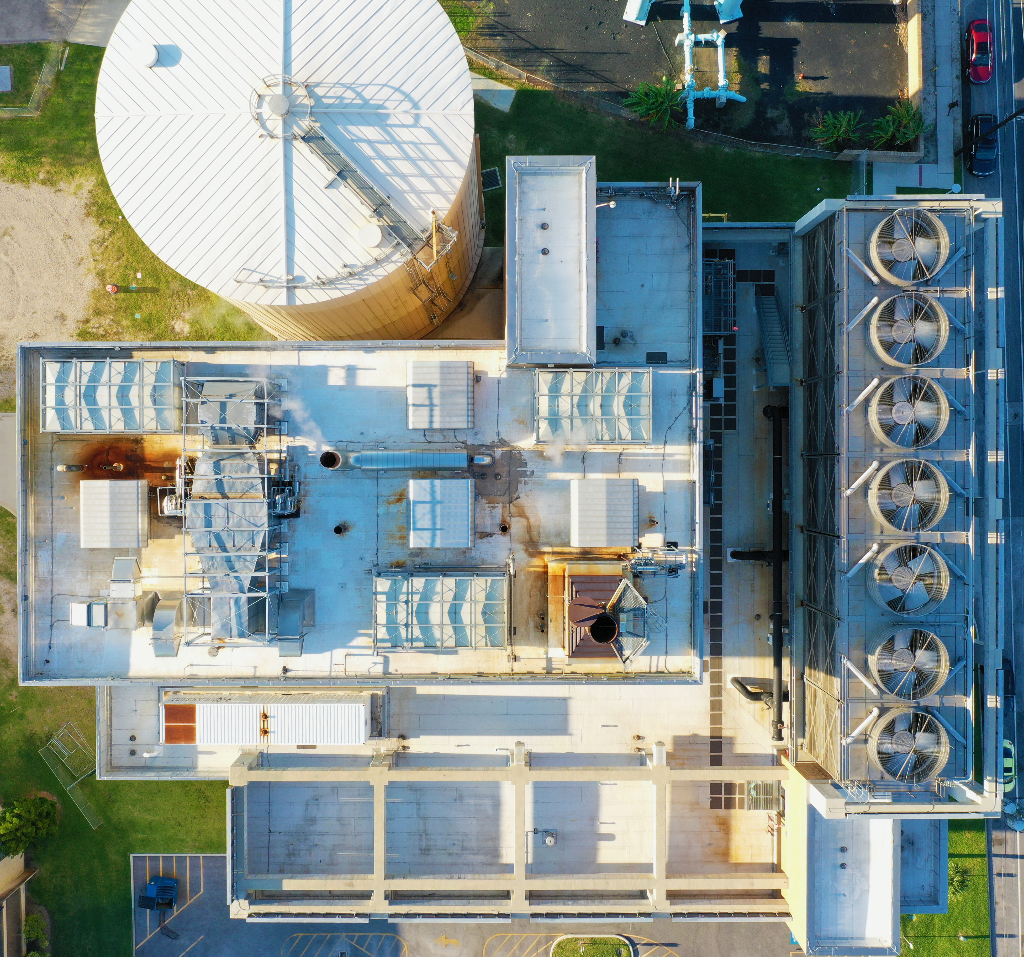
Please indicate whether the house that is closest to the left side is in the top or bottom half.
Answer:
bottom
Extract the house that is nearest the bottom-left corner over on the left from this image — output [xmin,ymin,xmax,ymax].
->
[0,853,39,905]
